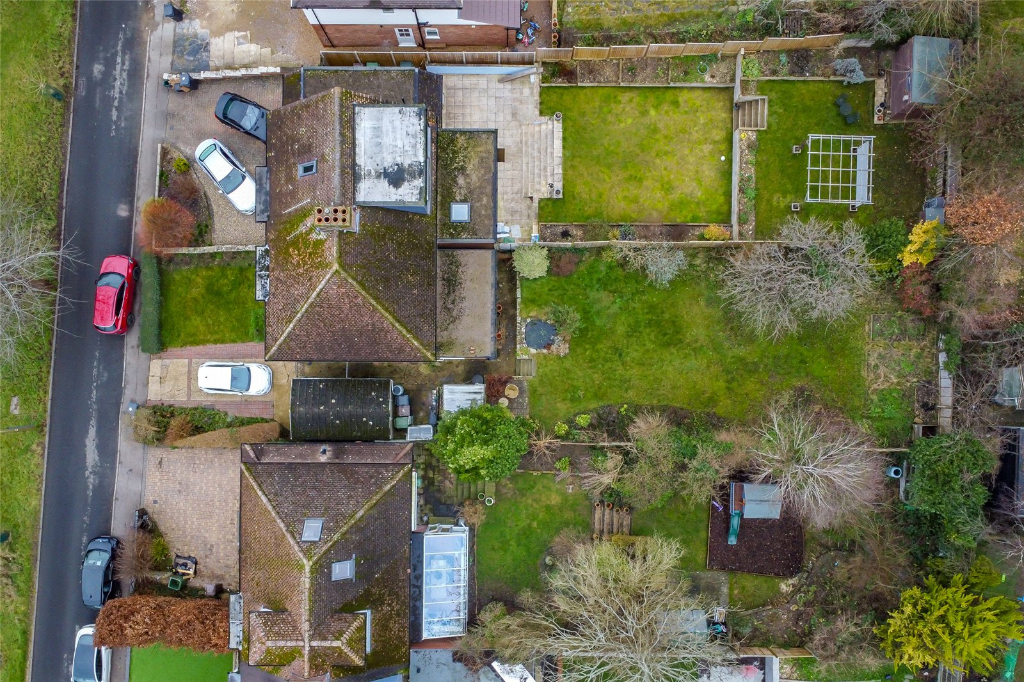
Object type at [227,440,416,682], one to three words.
house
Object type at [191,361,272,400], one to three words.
car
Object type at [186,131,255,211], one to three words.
car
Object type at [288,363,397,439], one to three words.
building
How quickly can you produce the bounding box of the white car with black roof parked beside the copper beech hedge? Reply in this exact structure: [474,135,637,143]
[72,626,117,682]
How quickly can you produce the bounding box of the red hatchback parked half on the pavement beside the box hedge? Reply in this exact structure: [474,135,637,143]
[91,255,140,333]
